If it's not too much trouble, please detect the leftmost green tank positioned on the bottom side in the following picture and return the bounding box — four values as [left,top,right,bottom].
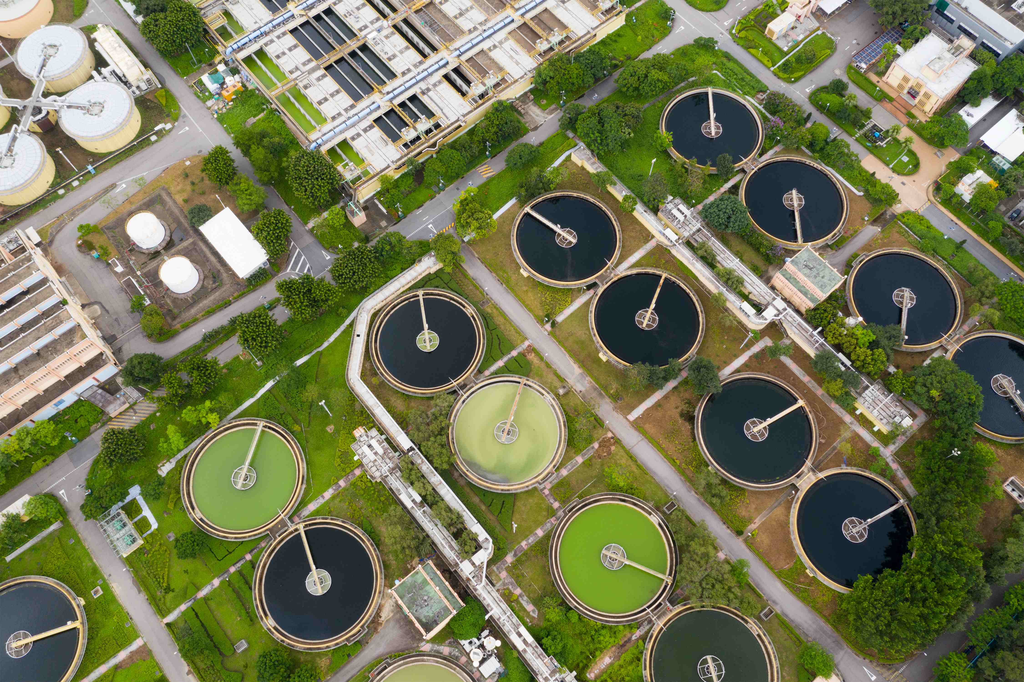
[179,417,307,541]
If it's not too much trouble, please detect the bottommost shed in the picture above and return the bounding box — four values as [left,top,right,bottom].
[476,653,511,681]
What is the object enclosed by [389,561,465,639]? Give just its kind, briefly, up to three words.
building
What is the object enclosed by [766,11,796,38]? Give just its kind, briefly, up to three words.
building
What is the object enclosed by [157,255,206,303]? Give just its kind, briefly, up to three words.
storage tank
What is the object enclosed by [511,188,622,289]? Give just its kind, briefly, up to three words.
storage tank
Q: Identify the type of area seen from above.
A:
industrial area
